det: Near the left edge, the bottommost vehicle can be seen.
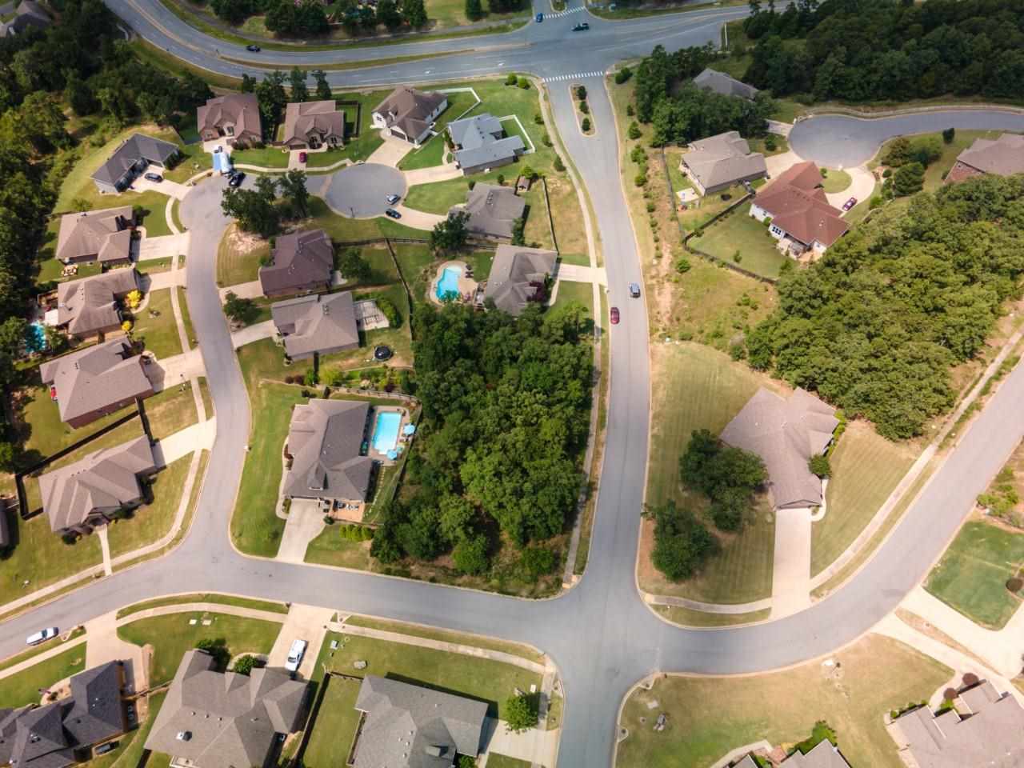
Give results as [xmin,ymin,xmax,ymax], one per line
[25,625,59,647]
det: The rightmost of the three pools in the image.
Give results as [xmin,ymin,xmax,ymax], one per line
[429,260,478,306]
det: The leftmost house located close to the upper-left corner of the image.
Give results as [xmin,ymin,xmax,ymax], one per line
[4,0,70,38]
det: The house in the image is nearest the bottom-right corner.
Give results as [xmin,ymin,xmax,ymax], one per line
[892,679,1024,768]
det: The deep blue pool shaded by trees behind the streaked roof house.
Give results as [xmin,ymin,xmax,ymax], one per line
[21,307,50,359]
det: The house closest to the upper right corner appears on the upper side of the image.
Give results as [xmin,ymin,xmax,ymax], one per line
[954,124,1024,180]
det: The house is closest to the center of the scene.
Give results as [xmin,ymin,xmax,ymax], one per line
[477,243,558,320]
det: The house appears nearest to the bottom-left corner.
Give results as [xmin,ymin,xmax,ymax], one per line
[0,661,128,768]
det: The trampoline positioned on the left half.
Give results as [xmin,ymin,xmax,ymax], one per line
[372,344,393,362]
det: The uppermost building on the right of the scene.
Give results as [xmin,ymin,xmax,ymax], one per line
[694,68,759,110]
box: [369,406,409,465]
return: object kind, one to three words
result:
swimming pool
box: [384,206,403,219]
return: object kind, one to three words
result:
vehicle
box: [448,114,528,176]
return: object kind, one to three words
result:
house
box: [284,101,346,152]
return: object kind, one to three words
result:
house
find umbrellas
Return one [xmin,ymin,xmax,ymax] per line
[385,448,399,460]
[402,423,416,435]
